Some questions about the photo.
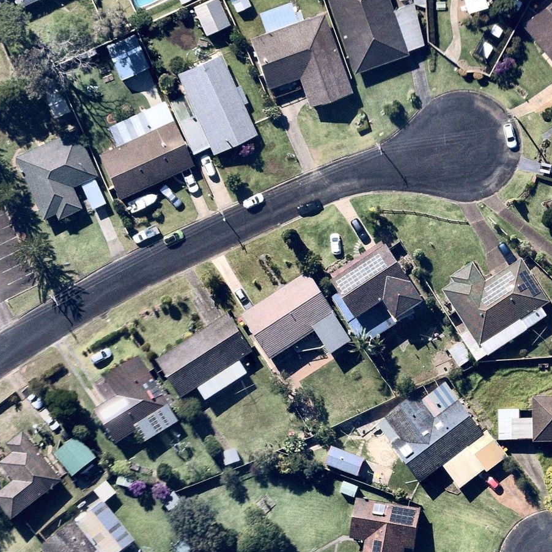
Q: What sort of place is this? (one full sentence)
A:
This image shows a residential area.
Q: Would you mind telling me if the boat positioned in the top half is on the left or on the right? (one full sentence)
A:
You can find the boat positioned in the top half on the left side of the picture.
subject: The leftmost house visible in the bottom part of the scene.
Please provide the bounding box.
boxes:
[0,431,62,520]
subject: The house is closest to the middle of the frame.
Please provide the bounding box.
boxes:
[242,275,350,360]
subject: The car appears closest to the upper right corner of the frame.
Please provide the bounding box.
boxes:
[503,123,518,150]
